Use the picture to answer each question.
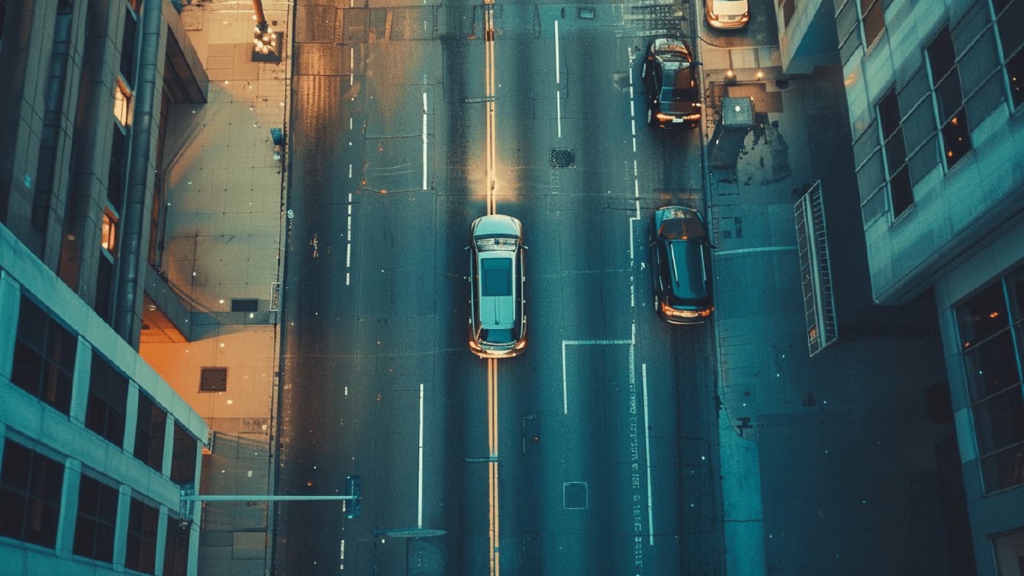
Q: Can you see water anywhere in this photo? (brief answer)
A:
No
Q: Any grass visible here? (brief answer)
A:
No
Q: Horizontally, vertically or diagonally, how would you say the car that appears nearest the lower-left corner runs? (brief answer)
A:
vertically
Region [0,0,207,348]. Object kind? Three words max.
building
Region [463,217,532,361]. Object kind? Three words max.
car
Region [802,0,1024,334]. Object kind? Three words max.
building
